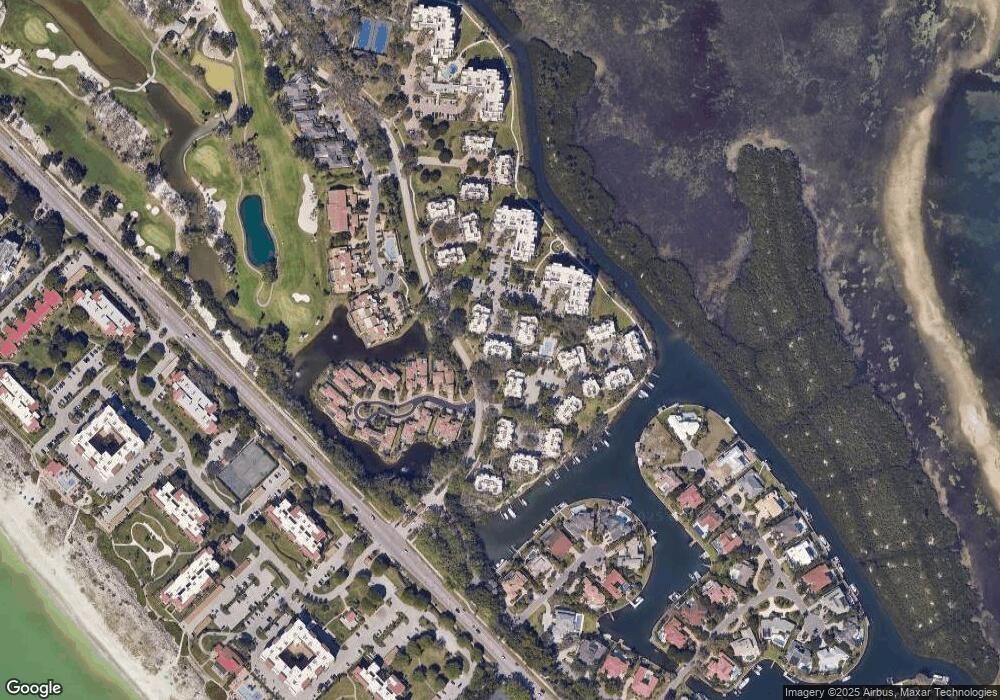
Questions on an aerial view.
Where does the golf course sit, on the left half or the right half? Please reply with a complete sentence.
The golf course appears in the left half of the scene.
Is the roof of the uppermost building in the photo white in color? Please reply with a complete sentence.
Yes, the roof of the uppermost building is indeed white.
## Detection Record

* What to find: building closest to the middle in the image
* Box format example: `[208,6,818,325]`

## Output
[480,336,513,356]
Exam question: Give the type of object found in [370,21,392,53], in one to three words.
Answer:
tennis court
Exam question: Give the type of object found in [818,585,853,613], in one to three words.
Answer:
house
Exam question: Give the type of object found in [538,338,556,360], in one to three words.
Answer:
swimming pool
